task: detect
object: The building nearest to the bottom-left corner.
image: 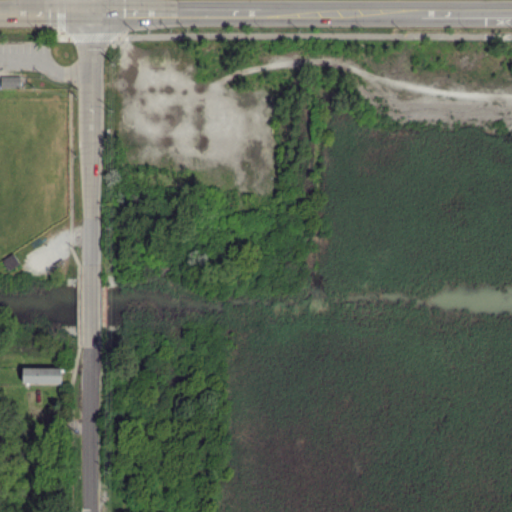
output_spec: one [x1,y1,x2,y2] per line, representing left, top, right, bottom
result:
[22,368,62,386]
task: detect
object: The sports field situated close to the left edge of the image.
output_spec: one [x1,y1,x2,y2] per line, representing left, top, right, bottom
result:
[0,90,69,259]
